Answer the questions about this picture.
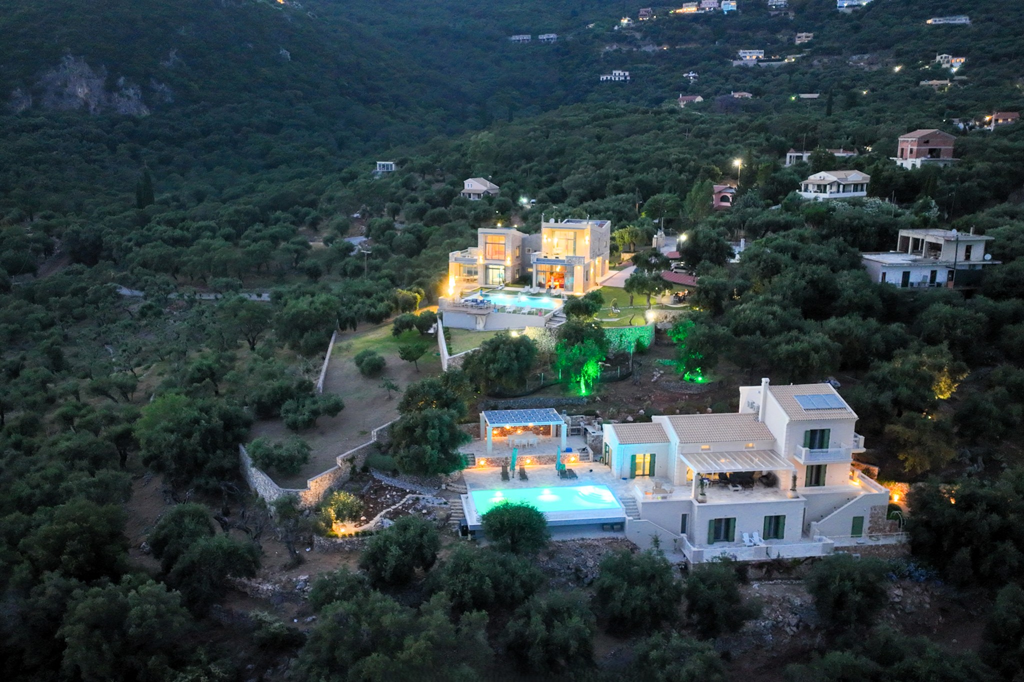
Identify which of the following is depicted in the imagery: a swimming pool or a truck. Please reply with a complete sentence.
I can see a swimming pool in this picture.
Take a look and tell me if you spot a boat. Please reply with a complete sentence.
No, there isn't any boat down there.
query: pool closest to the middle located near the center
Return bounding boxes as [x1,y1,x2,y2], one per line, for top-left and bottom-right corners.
[447,292,570,310]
